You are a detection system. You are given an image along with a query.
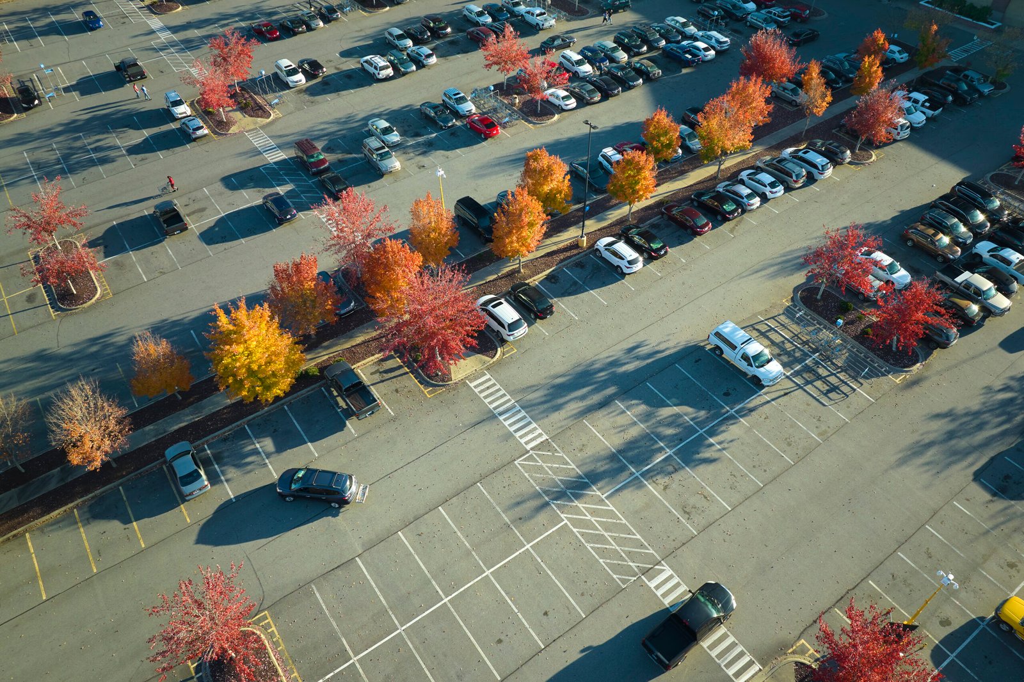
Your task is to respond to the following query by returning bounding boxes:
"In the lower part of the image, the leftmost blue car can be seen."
[166,441,216,509]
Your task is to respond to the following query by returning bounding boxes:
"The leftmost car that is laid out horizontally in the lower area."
[271,463,360,512]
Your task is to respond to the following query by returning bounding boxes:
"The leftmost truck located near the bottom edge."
[639,576,742,674]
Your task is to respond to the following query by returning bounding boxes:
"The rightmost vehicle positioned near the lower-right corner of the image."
[997,594,1024,641]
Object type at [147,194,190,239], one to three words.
truck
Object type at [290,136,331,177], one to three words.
van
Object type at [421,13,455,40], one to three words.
vehicle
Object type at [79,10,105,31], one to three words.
car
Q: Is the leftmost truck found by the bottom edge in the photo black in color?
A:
Yes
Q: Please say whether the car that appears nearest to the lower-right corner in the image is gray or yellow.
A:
yellow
